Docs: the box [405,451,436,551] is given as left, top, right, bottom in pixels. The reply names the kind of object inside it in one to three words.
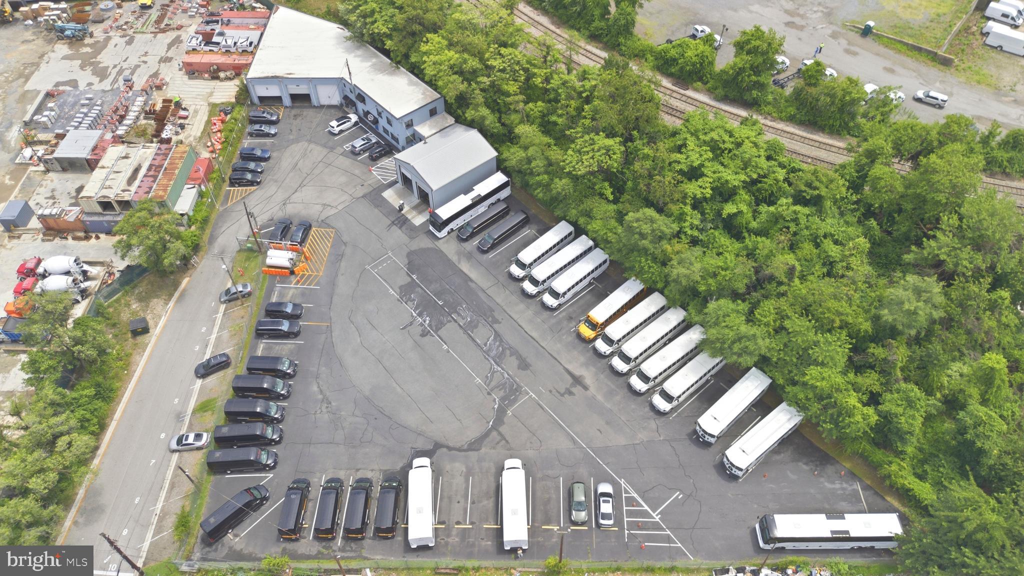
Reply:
bus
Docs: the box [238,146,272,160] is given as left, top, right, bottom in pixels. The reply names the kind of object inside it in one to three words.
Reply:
car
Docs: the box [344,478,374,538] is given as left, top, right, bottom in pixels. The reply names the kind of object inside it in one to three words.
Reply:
van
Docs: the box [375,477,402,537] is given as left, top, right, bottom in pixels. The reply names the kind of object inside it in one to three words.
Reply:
vehicle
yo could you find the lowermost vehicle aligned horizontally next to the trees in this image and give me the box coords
[755,509,901,552]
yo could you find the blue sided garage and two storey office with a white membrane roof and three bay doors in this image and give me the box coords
[246,4,461,148]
